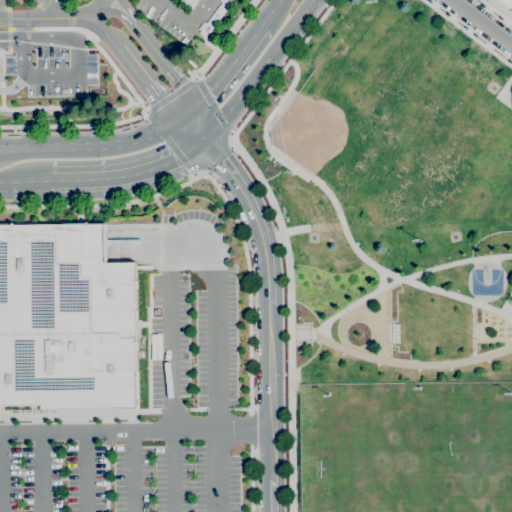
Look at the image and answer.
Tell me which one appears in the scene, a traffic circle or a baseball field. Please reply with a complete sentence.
The image shows a baseball field.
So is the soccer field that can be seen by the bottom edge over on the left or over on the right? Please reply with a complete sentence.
The soccer field that can be seen by the bottom edge appears in the right half of the scene.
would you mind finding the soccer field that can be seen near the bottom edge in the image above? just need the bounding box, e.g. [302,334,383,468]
[300,384,512,512]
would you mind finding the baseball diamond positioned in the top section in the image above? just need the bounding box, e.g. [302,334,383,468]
[271,91,349,174]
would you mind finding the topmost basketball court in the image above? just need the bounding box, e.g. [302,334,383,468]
[468,262,508,302]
